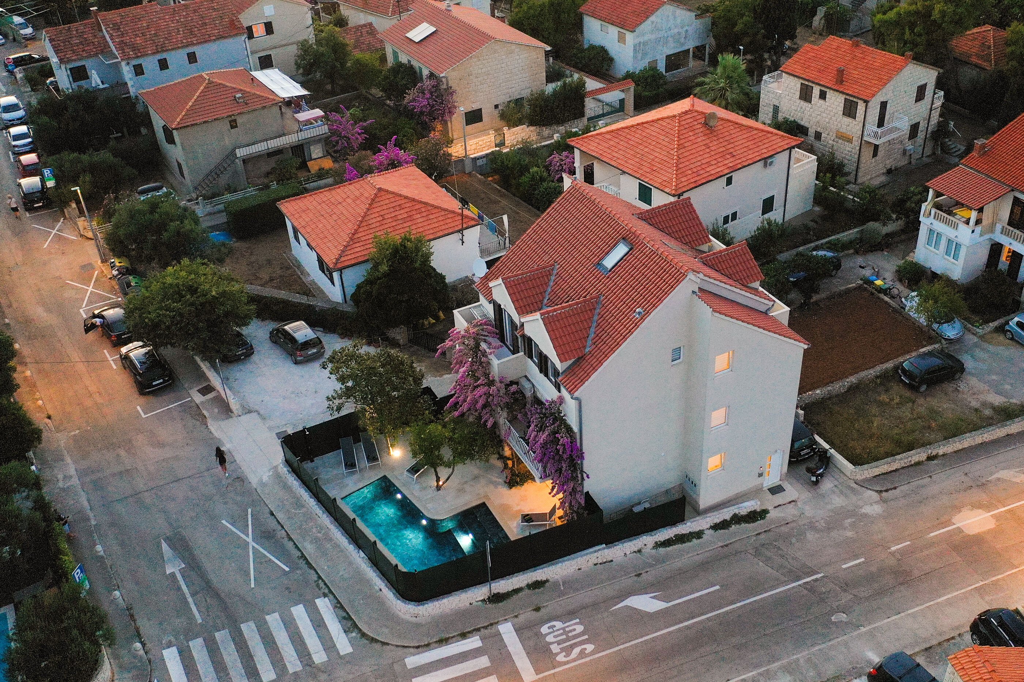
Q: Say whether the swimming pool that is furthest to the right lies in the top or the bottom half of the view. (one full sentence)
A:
It is in the bottom half that the swimming pool that is furthest to the right appears.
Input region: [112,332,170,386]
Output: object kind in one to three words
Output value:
car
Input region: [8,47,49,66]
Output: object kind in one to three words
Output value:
car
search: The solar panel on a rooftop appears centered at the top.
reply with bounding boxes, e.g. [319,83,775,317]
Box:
[405,22,438,43]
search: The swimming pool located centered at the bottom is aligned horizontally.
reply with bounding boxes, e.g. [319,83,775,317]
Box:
[339,470,521,574]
